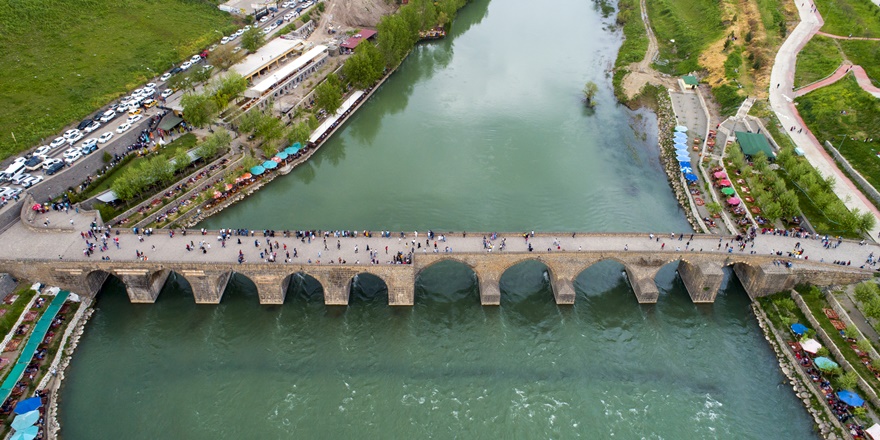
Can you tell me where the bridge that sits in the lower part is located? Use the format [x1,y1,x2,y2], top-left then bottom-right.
[0,229,880,304]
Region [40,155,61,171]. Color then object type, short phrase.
white car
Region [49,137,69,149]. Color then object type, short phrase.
white vehicle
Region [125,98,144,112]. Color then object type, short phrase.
white vehicle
